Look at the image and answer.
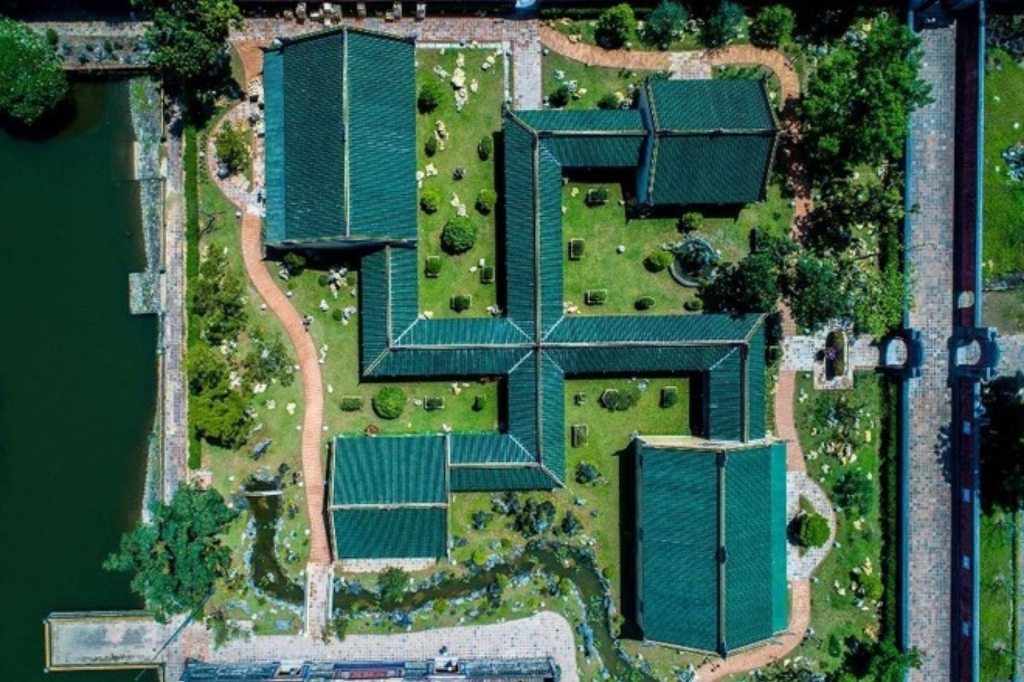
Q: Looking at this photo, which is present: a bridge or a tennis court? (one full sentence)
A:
Of the two, only a bridge appears.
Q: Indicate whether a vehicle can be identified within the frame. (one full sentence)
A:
No, the photo shows no vehicle.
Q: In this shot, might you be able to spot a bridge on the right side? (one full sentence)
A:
No, there is no bridge on the right side.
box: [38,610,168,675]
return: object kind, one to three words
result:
pier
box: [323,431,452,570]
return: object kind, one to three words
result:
building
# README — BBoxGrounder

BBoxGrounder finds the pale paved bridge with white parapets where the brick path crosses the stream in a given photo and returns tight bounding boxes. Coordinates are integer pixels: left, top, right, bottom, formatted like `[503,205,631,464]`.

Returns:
[301,563,333,642]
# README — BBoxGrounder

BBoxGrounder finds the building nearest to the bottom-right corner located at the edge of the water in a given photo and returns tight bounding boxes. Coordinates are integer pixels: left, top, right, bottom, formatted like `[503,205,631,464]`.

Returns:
[636,437,787,670]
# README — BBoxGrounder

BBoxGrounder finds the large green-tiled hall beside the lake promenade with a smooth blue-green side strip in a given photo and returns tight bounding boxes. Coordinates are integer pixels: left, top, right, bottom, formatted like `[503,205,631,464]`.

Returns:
[264,29,422,253]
